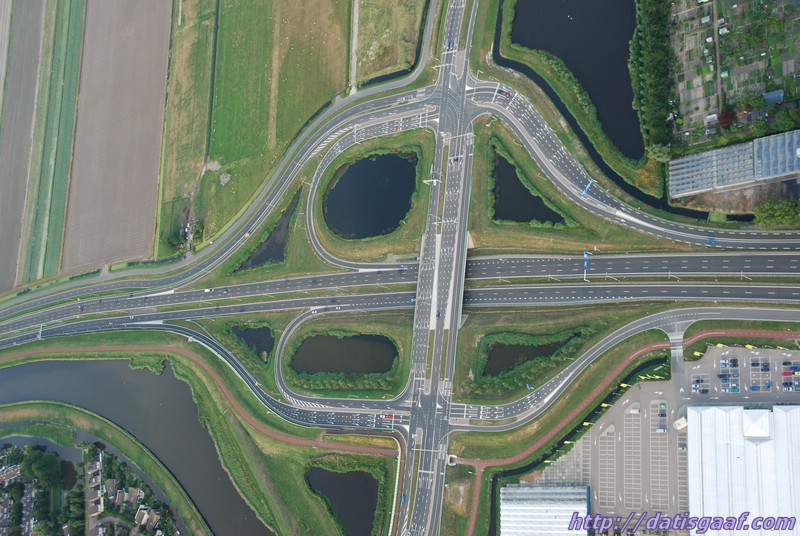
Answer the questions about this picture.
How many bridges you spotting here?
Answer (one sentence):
In total, 1 bridge can be seen.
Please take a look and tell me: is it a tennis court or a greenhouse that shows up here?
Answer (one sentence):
This aerial view contains a greenhouse.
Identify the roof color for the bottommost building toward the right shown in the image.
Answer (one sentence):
The roof of the bottommost building toward the right is white.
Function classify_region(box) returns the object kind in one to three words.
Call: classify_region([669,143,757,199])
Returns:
greenhouse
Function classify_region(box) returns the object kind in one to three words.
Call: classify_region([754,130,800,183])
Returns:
greenhouse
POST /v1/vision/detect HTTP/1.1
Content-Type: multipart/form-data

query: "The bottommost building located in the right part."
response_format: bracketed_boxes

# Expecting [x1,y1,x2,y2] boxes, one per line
[500,488,595,536]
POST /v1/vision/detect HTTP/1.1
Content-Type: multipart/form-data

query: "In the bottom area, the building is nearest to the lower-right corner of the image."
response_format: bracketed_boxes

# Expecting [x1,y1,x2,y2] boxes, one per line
[688,405,800,536]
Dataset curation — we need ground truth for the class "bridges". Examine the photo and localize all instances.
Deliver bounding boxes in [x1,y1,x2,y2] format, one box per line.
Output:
[412,230,474,334]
